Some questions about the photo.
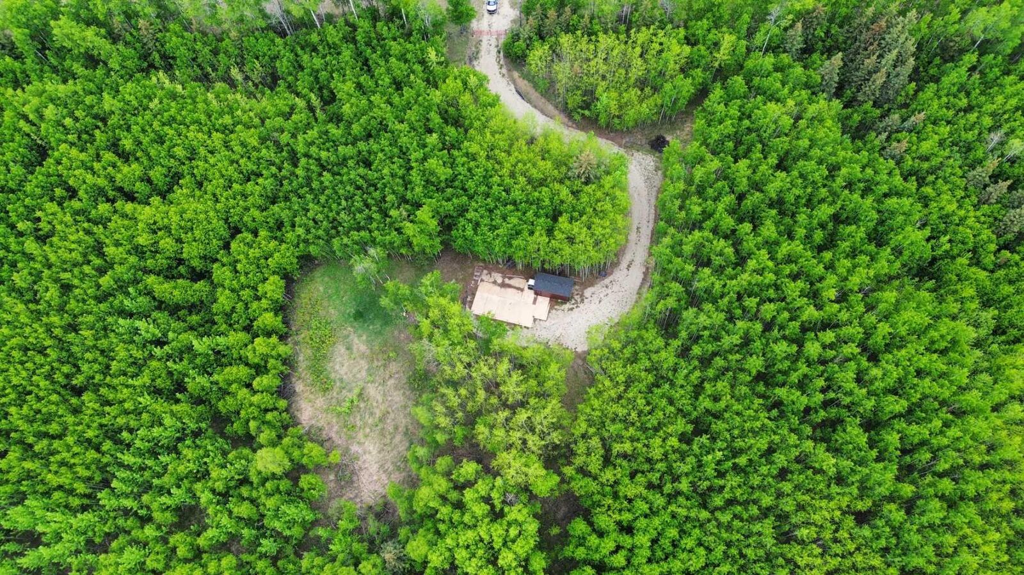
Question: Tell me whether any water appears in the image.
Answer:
No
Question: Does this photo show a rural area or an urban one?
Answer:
rural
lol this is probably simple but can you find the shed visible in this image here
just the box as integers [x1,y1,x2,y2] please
[532,273,574,301]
